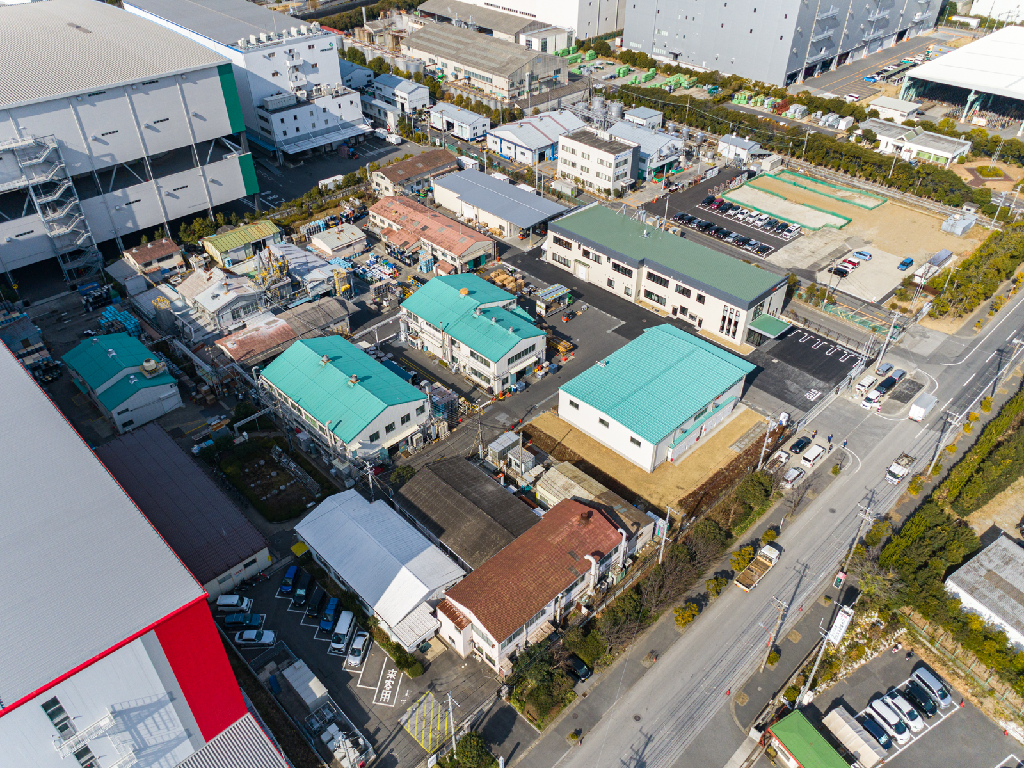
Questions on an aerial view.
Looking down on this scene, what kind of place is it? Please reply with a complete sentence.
It's an industrial area.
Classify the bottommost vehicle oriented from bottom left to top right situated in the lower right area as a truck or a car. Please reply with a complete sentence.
Looking closely, the bottommost vehicle oriented from bottom left to top right situated in the lower right area is a truck.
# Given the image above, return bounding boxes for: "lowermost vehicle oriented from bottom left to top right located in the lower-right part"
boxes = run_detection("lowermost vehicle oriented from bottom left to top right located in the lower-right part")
[728,541,784,596]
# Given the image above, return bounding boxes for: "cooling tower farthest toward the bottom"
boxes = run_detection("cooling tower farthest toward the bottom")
[139,354,157,371]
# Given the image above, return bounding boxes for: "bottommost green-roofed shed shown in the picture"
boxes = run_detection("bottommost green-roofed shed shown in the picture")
[763,706,857,768]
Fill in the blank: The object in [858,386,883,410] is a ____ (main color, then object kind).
white car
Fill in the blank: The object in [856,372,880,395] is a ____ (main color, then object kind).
white car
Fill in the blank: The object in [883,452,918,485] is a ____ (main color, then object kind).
white truck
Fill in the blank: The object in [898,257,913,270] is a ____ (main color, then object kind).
blue vehicle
